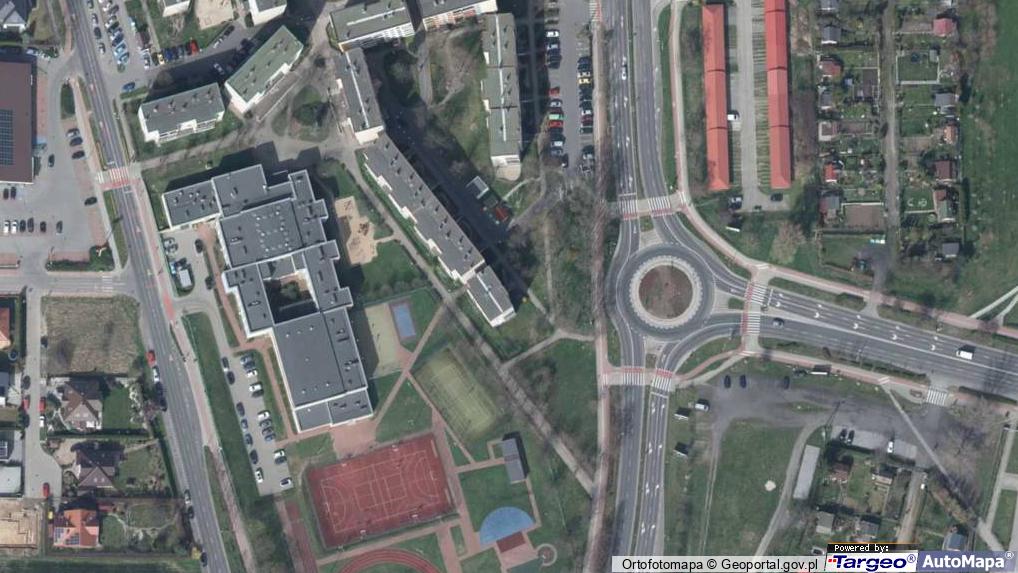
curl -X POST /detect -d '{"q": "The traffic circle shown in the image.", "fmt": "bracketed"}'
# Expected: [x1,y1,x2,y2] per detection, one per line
[605,218,748,376]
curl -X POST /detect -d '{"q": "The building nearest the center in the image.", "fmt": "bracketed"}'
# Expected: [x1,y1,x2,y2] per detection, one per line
[462,266,514,329]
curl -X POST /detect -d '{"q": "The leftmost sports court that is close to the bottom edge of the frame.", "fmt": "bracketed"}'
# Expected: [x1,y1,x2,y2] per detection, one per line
[308,434,455,547]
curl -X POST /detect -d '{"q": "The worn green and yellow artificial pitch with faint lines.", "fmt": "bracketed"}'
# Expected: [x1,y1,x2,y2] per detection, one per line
[413,348,503,444]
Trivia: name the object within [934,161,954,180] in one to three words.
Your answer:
shed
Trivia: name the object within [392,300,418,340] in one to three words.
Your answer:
basketball court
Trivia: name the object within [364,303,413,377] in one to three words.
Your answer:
sports court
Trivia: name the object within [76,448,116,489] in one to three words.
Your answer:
house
